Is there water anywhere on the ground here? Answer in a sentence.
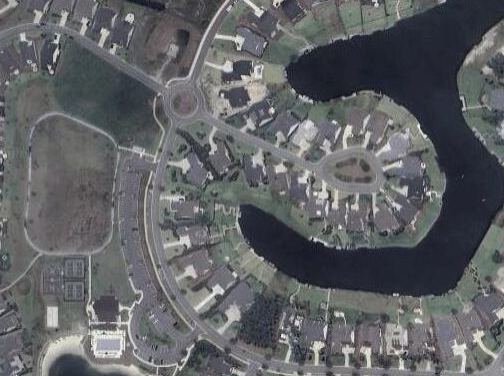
Yes, some water is visible.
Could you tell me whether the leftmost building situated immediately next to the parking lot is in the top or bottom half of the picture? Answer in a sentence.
It is in the bottom half that the leftmost building situated immediately next to the parking lot appears.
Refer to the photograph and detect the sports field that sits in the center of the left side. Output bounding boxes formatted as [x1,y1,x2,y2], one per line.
[27,116,116,249]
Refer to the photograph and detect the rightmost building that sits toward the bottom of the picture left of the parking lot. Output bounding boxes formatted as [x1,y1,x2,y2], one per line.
[92,294,120,321]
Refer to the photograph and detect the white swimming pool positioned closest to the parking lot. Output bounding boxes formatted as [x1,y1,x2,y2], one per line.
[95,331,125,357]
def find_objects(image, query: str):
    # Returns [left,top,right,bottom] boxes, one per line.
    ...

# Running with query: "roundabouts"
[163,81,205,123]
